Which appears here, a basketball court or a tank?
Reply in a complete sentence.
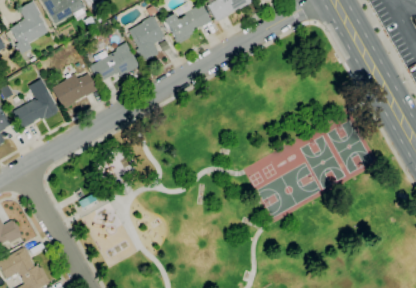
Of the two, only a basketball court appears.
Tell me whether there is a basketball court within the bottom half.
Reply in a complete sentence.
Yes, there is a basketball court within the bottom half.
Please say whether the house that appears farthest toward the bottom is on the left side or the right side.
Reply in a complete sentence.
The house that appears farthest toward the bottom is on the left side of the image.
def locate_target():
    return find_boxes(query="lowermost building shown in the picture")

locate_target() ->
[0,250,52,288]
